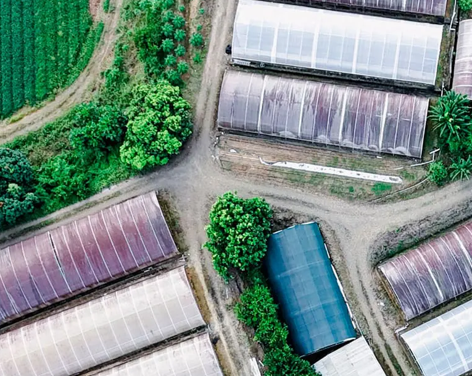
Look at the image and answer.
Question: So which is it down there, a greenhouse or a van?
greenhouse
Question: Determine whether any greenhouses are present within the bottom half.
Yes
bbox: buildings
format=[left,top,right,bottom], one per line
[231,0,444,89]
[311,336,386,376]
[400,300,472,376]
[378,221,472,321]
[0,191,181,326]
[217,68,430,161]
[451,20,472,100]
[269,222,361,356]
[0,266,205,376]
[92,334,222,376]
